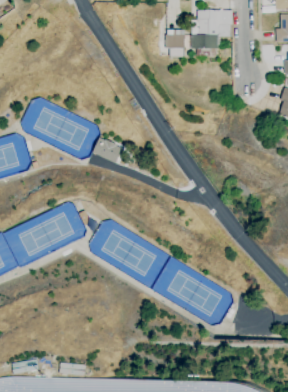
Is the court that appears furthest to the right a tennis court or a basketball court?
tennis court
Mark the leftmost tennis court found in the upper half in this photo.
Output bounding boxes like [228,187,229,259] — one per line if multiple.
[0,134,30,175]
